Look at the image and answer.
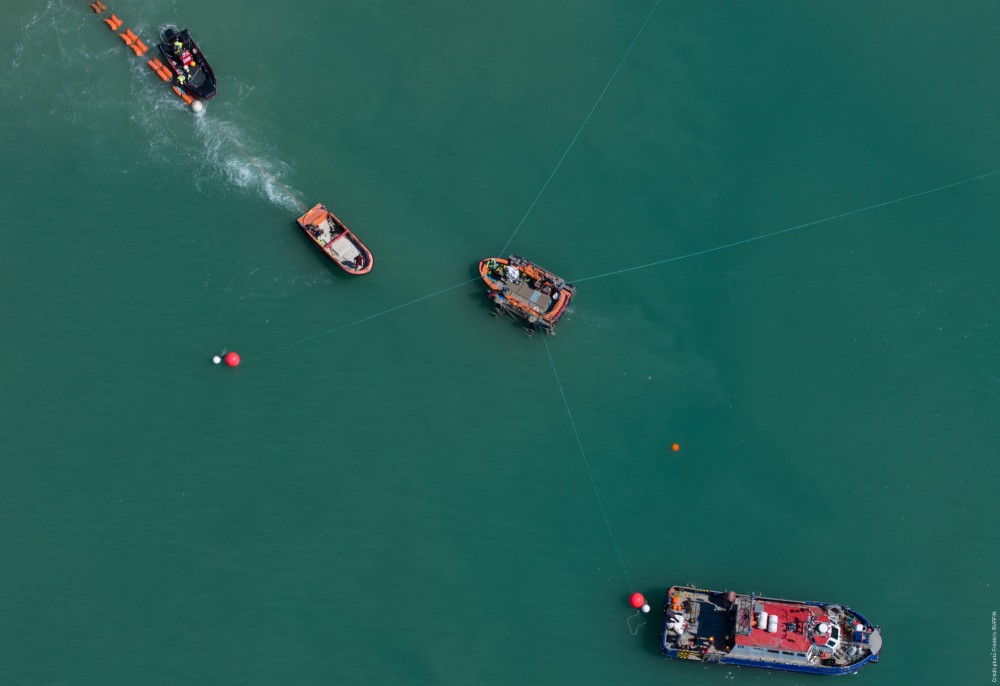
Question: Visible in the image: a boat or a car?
boat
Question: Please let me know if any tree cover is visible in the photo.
No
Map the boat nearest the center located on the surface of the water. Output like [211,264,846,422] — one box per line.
[479,254,576,335]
